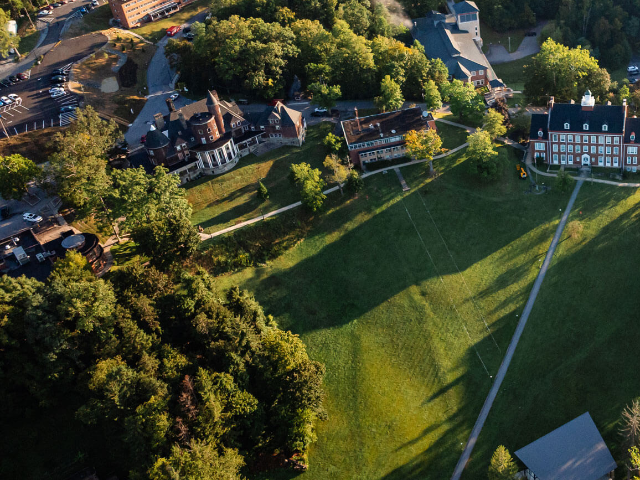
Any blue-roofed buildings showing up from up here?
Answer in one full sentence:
Yes, the image includes a blue-roofed building.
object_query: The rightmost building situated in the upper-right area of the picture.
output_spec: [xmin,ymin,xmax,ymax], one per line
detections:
[531,86,640,174]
